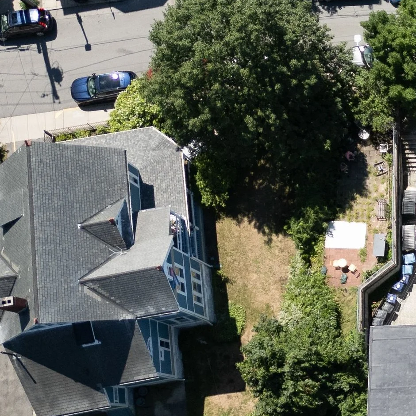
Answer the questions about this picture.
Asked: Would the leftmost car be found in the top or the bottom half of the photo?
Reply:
top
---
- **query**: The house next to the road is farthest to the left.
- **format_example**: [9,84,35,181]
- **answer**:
[0,125,210,416]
